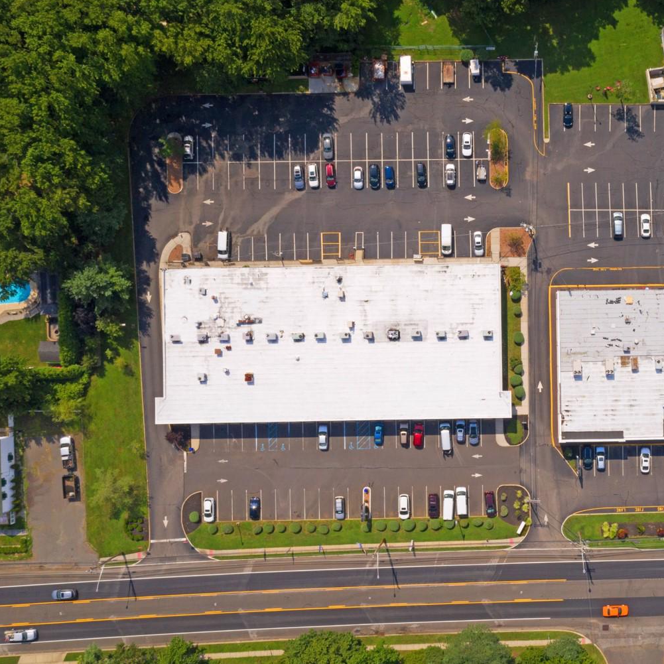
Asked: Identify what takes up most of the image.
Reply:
paved ground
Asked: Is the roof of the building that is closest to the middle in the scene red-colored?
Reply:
No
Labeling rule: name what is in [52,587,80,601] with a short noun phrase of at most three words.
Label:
vehicle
